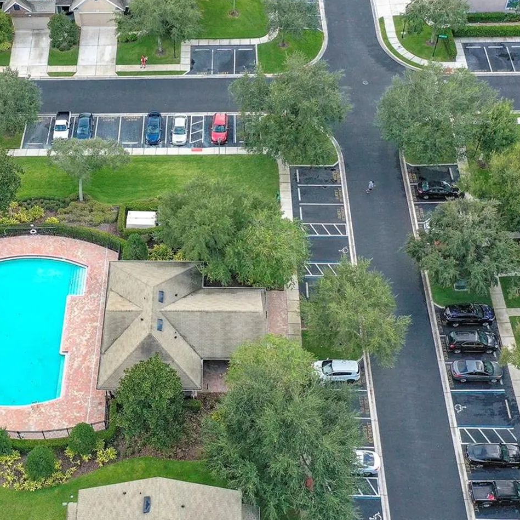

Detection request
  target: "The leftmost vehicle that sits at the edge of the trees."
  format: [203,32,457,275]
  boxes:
[51,111,73,145]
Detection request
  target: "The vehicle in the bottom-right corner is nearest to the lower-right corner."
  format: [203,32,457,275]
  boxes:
[462,480,520,510]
